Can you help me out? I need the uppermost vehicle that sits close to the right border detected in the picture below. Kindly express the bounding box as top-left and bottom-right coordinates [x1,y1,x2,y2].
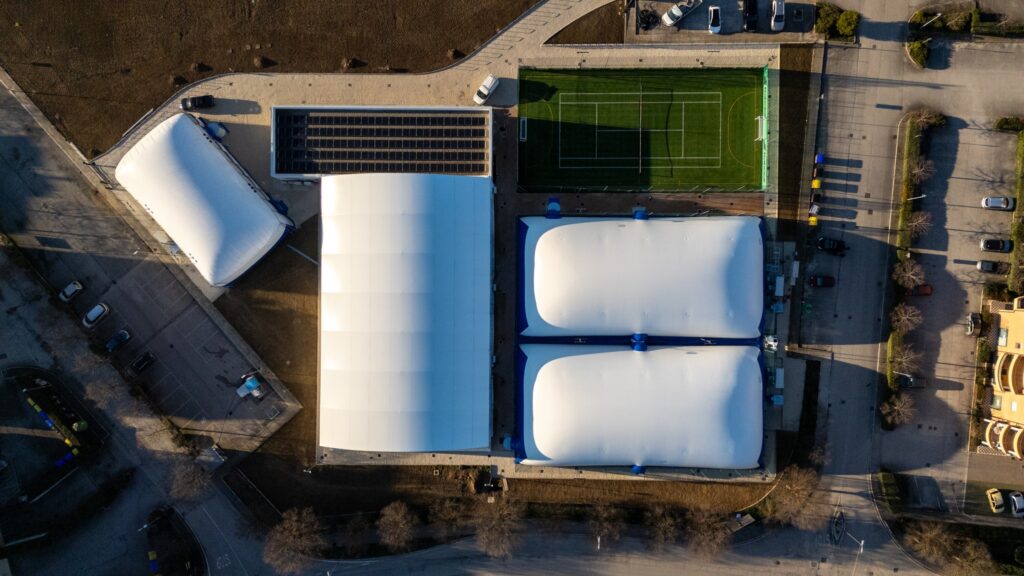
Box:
[980,195,1014,211]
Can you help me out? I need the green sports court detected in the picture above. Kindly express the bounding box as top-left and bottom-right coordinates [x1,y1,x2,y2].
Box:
[519,67,765,191]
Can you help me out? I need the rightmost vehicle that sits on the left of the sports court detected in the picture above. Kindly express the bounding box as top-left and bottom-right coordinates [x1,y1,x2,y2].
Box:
[473,74,500,105]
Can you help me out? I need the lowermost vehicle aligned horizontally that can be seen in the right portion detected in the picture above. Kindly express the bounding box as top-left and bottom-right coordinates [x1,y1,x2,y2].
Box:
[894,375,925,390]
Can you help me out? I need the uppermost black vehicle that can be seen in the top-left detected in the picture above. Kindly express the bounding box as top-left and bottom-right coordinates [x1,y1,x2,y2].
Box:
[181,93,217,112]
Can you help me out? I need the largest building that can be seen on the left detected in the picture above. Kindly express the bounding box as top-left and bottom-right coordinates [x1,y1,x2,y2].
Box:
[319,173,497,452]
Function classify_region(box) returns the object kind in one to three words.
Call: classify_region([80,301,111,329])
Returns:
car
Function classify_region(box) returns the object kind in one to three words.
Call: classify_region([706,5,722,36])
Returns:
car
